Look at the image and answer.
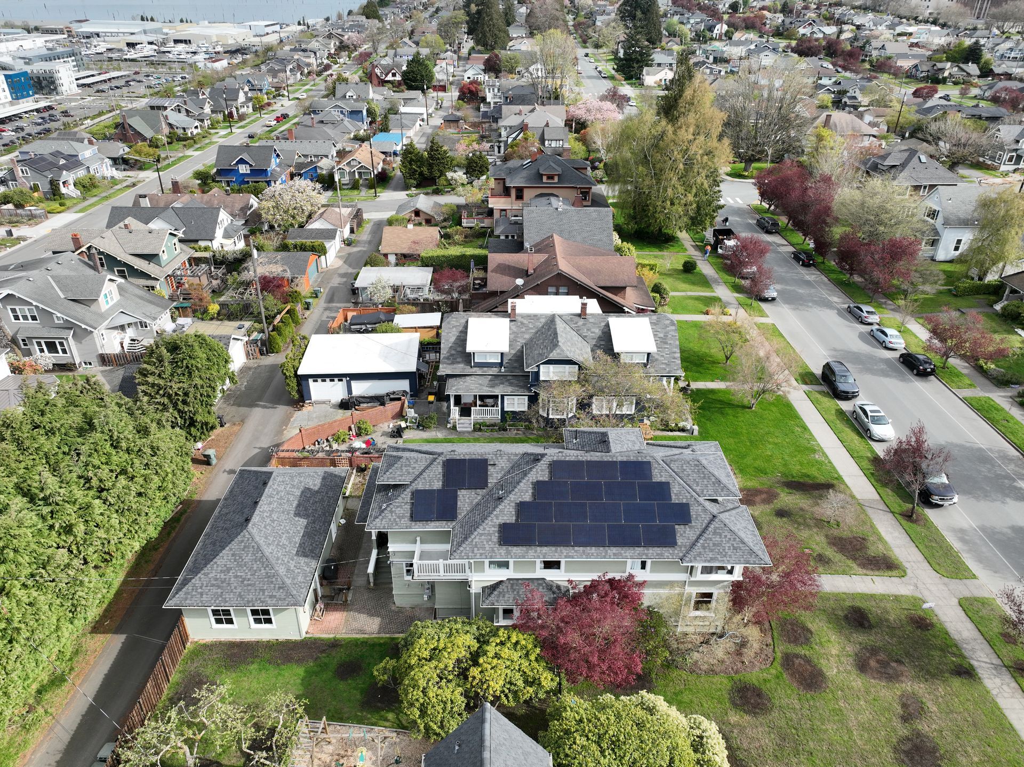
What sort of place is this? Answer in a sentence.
The area seen from above is a residential area.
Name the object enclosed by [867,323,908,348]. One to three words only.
car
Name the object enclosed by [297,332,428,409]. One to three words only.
building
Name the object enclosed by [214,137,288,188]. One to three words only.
house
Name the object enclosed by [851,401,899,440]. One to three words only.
car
